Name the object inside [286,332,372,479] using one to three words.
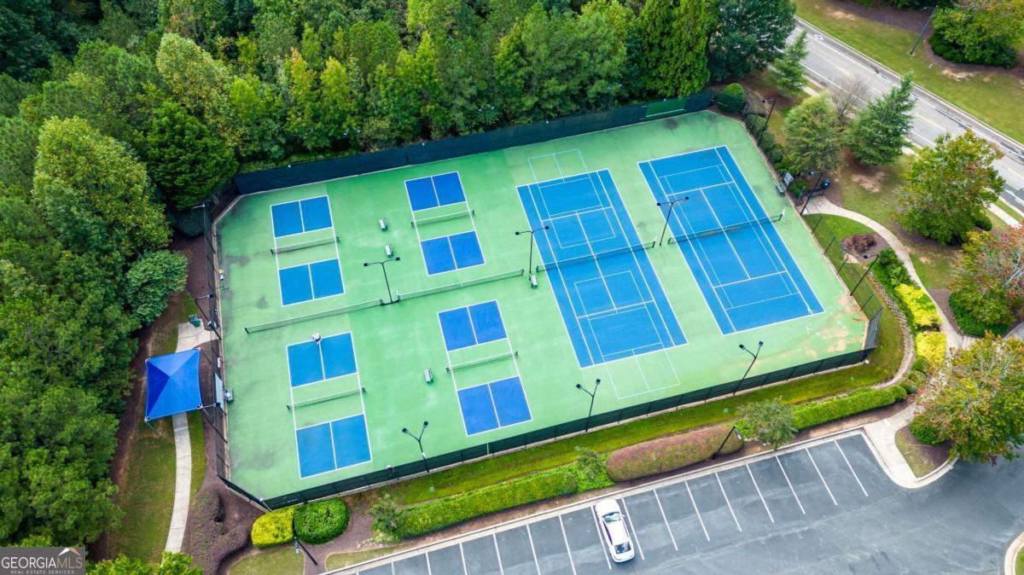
sports court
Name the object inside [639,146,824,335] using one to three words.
tennis court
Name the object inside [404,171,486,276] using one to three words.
sports court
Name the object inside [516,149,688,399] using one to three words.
tennis court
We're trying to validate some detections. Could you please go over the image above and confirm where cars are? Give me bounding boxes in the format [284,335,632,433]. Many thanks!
[599,496,634,561]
